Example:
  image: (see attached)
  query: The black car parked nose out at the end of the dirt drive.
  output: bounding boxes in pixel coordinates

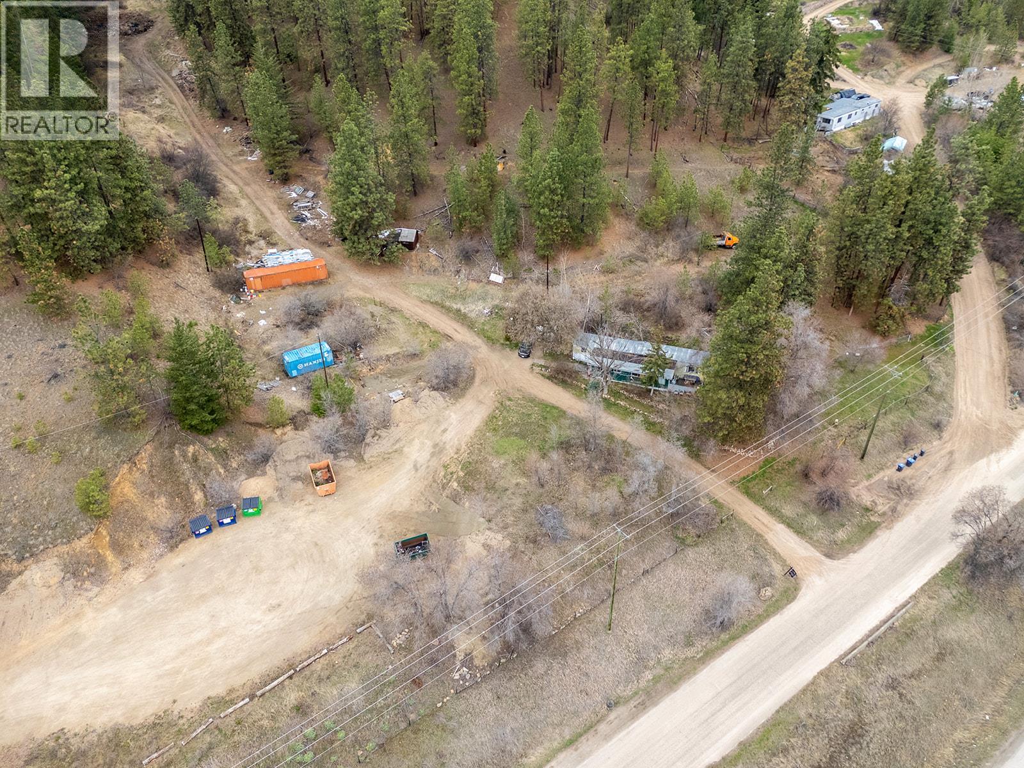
[519,333,537,354]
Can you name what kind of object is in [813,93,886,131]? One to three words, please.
house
